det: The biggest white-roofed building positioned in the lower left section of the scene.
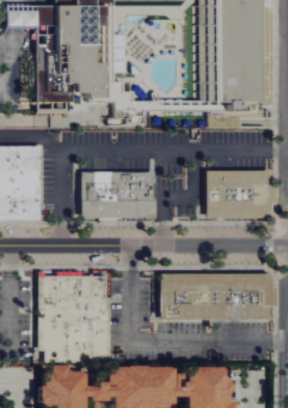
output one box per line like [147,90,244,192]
[34,270,112,361]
